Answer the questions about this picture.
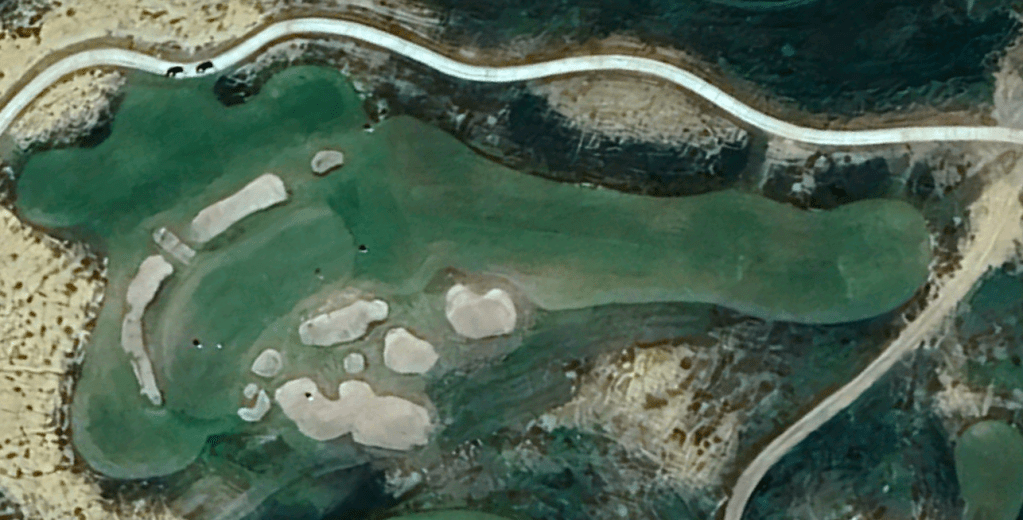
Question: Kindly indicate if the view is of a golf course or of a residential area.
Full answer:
This image shows a golf course.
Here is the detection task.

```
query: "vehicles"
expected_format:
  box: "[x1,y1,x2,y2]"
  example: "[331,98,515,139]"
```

[168,68,184,77]
[198,64,214,75]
